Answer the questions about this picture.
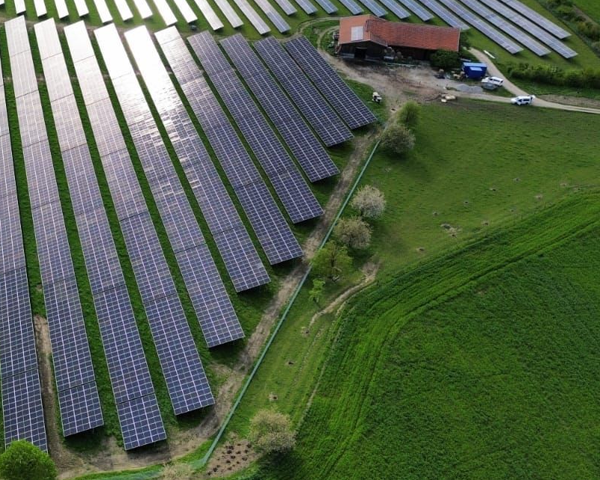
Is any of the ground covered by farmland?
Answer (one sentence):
Yes, some farmland is visible.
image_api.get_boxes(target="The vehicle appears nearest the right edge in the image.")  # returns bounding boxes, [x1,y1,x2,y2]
[510,95,539,107]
